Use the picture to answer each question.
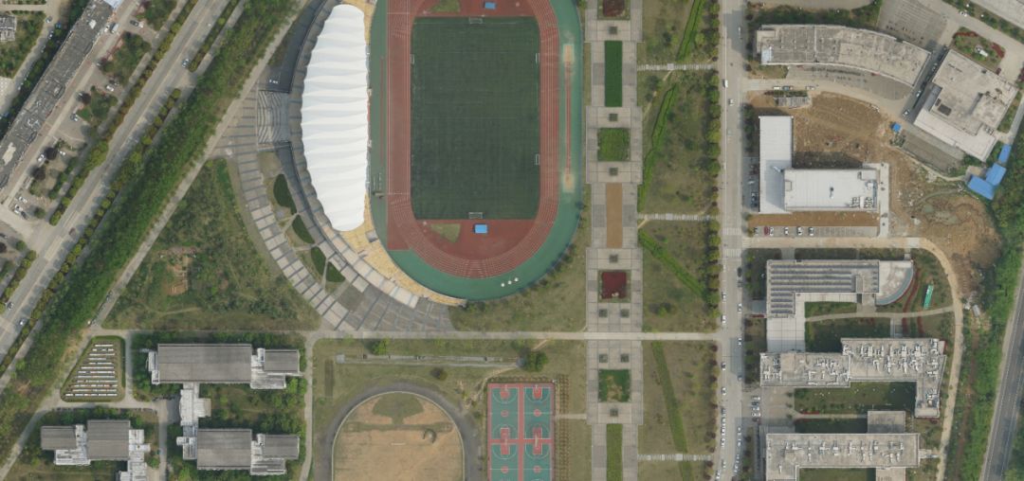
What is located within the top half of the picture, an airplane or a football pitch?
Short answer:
football pitch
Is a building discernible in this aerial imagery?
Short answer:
Yes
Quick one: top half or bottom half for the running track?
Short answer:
top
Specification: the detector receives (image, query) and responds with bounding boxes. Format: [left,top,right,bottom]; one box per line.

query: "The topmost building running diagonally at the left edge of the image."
[0,0,123,188]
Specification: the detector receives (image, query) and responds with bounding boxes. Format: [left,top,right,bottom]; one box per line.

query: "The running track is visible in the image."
[370,0,582,301]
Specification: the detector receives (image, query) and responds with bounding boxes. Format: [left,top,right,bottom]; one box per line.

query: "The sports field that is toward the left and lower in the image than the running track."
[314,381,482,481]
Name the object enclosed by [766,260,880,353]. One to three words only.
building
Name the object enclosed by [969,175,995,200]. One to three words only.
shed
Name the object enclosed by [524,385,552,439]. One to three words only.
basketball court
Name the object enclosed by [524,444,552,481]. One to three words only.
basketball court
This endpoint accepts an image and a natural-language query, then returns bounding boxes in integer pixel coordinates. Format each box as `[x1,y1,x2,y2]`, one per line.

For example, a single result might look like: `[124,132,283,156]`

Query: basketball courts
[491,385,518,439]
[491,444,518,481]
[524,444,552,481]
[524,385,552,439]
